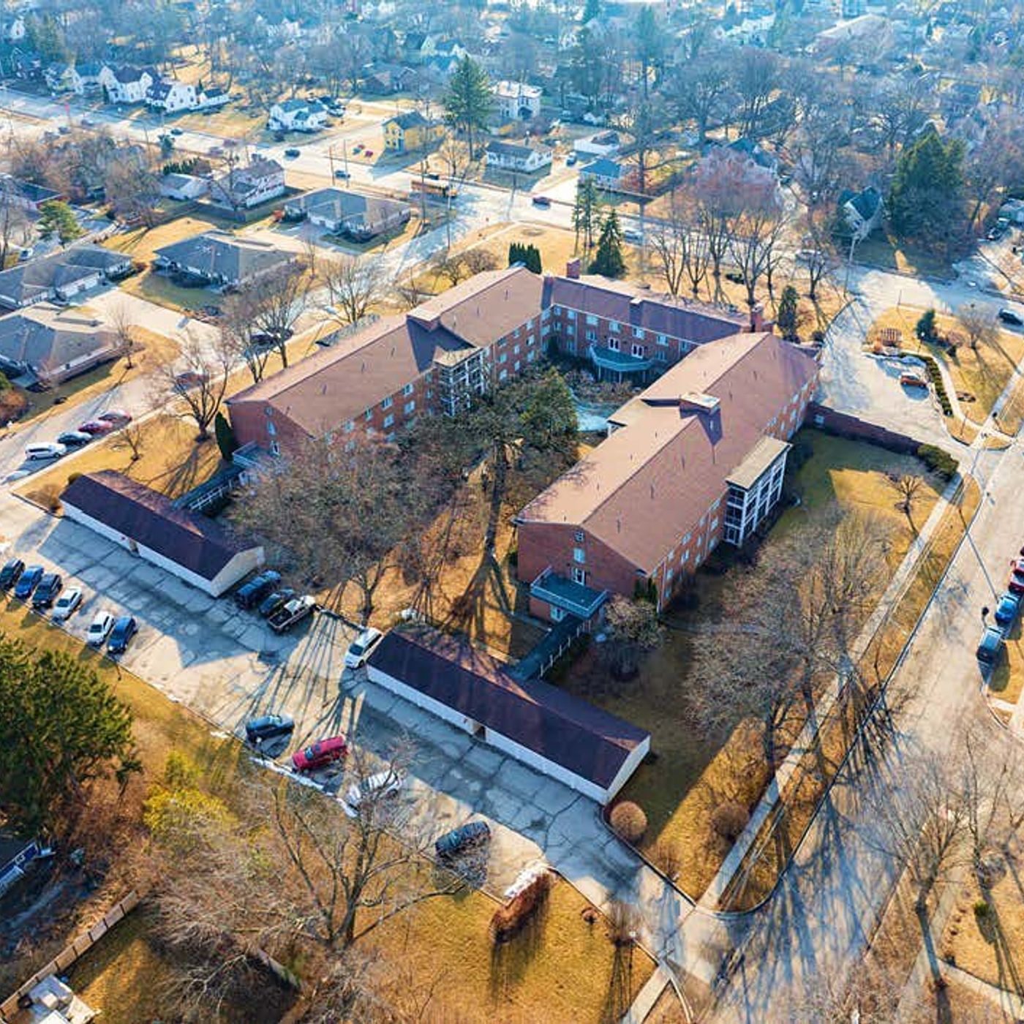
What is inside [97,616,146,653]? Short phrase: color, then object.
blue car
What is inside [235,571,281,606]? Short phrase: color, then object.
blue van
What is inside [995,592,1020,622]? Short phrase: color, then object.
blue car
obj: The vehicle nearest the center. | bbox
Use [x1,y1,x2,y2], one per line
[342,627,385,668]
